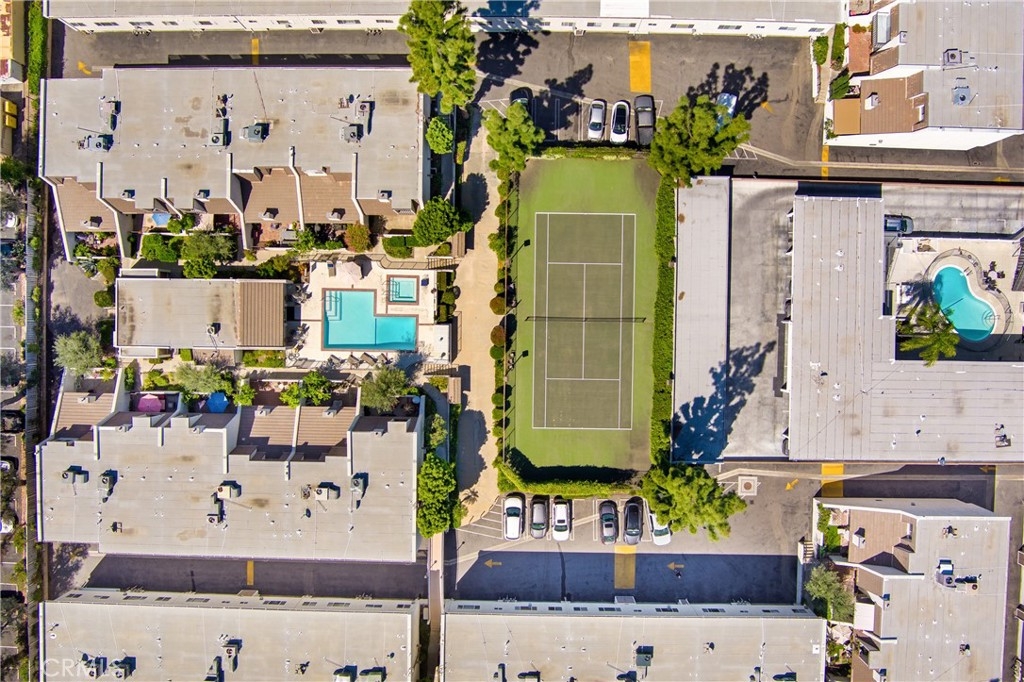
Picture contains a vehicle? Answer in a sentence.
Yes, the image includes a vehicle.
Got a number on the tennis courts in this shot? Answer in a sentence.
In total, 1 tennis court can be seen.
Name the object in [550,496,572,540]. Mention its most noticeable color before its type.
white car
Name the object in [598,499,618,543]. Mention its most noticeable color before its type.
gray car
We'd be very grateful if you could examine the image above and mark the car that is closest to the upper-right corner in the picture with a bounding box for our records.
[884,212,915,234]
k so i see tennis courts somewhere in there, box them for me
[507,157,660,486]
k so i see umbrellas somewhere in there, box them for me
[828,620,847,640]
[208,391,231,411]
[339,255,366,283]
[142,390,163,411]
[152,215,171,227]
